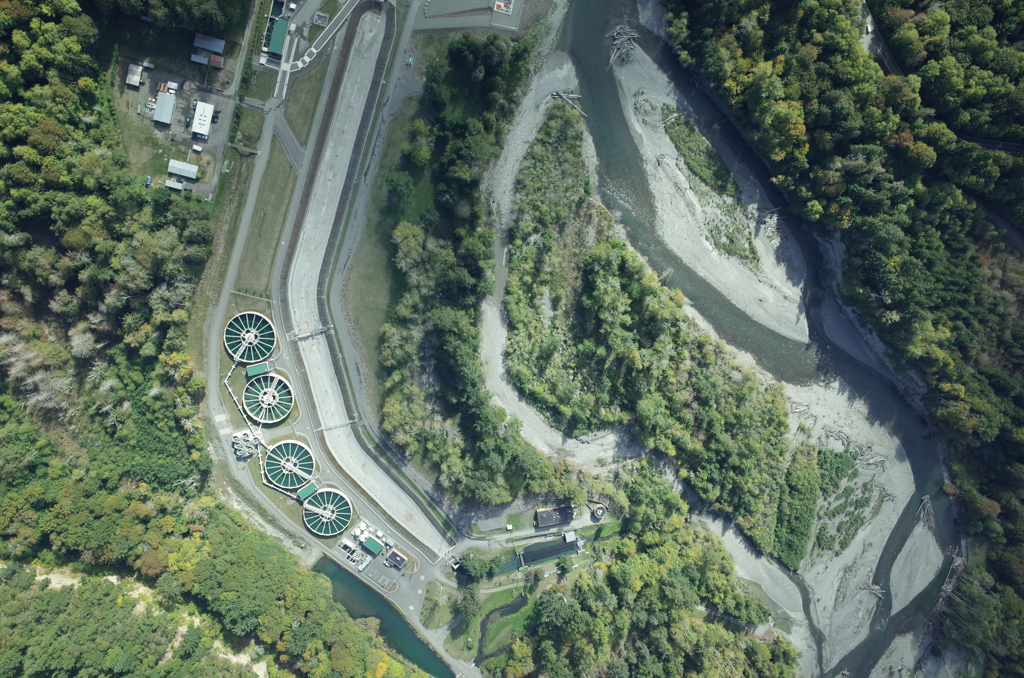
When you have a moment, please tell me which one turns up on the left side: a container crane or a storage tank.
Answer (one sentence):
The one visible on the left side is a storage tank.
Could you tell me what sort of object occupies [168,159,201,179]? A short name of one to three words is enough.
house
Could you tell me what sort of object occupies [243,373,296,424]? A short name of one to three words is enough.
storage tank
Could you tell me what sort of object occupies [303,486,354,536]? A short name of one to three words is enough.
storage tank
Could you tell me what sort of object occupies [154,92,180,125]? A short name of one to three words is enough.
building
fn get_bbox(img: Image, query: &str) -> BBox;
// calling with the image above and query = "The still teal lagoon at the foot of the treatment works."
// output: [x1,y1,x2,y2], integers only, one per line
[318,558,453,678]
